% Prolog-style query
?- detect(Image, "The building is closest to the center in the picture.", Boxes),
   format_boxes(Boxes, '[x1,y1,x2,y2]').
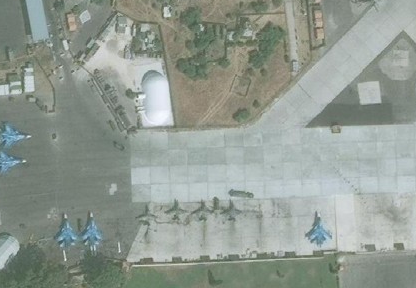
[134,72,171,124]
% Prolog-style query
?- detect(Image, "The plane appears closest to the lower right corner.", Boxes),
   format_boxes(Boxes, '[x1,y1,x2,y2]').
[307,213,330,249]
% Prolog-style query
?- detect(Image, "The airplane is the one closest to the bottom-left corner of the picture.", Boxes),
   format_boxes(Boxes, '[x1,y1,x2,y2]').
[54,214,77,249]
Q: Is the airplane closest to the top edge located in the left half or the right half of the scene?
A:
left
